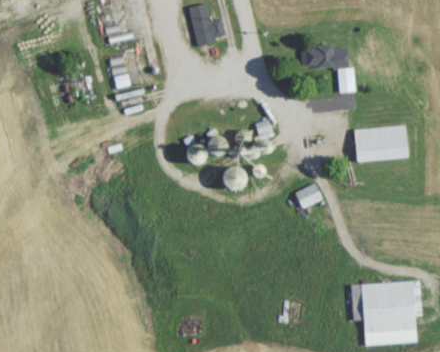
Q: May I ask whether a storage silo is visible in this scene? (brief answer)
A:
Yes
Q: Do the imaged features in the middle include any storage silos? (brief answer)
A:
Yes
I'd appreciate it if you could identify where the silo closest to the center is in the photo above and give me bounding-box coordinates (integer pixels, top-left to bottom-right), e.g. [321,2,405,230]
[222,165,248,192]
